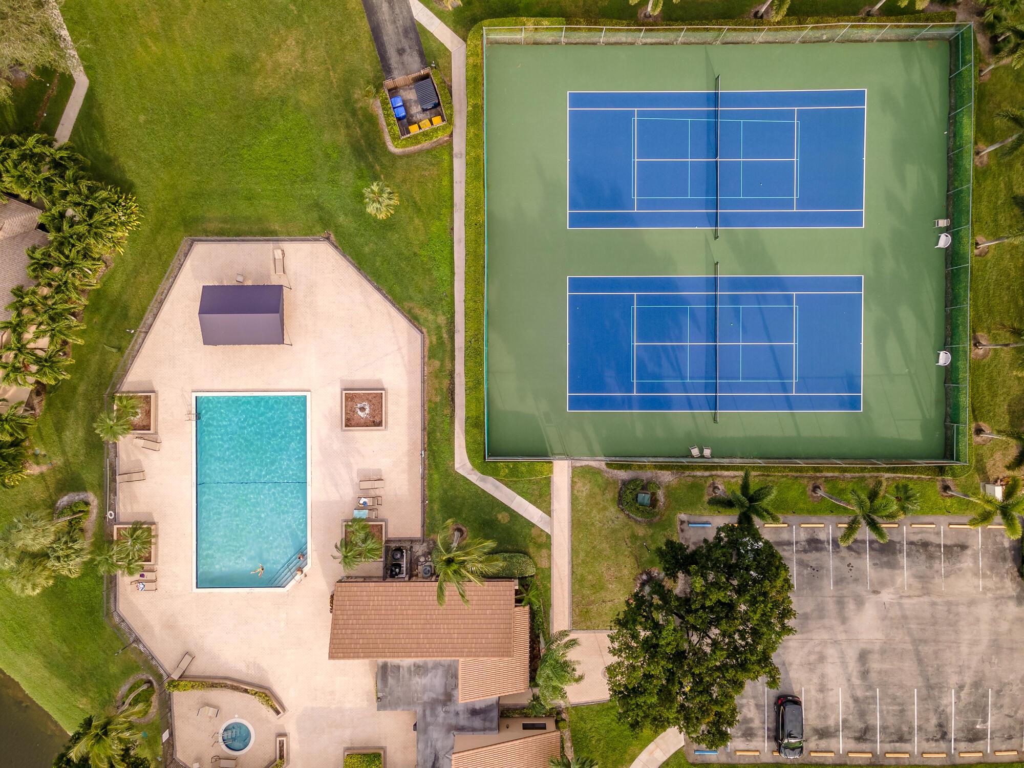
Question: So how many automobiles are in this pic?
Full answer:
The picture shows 1 automobile.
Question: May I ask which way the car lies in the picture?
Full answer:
Seen from above, the car lies vertically.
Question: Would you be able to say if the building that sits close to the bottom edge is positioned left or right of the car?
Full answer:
The car has the building that sits close to the bottom edge on its left side.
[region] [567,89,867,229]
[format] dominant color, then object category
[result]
blue tennis court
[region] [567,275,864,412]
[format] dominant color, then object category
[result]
blue tennis court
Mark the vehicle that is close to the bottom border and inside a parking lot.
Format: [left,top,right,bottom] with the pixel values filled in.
[776,700,805,757]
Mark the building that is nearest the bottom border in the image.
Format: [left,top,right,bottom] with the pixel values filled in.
[327,577,561,768]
